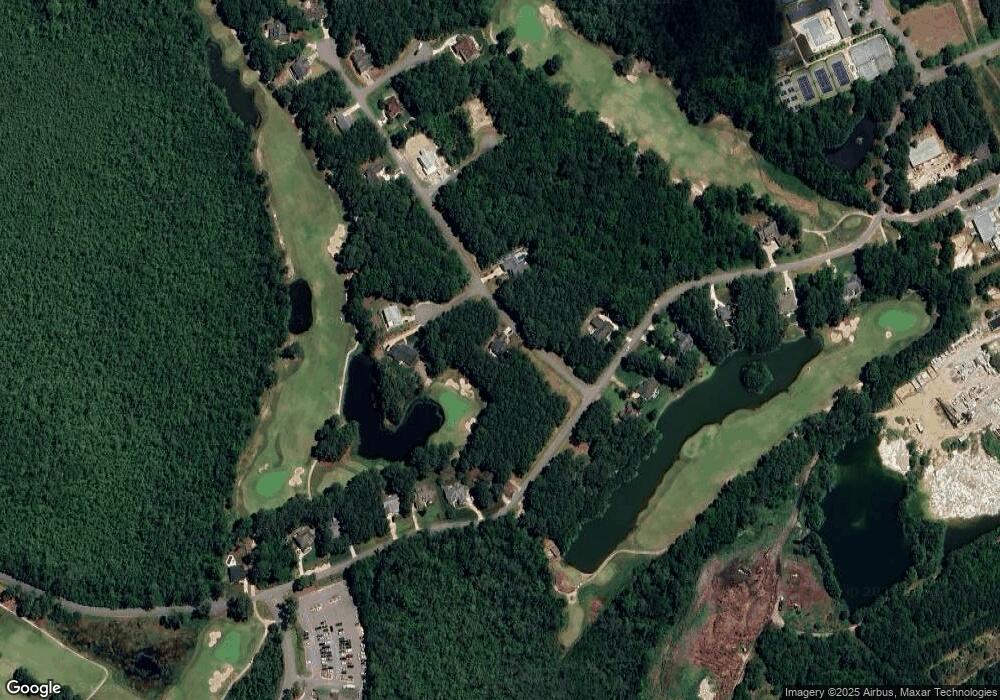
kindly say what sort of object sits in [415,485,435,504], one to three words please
house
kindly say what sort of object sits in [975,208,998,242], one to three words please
building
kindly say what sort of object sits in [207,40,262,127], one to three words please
pond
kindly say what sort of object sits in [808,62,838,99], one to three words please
tennis court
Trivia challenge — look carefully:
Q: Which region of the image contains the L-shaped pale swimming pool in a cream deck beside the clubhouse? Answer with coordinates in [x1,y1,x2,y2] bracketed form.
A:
[791,9,842,50]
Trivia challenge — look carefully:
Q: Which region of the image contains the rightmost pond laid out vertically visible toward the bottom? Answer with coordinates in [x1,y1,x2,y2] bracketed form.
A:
[821,433,908,611]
